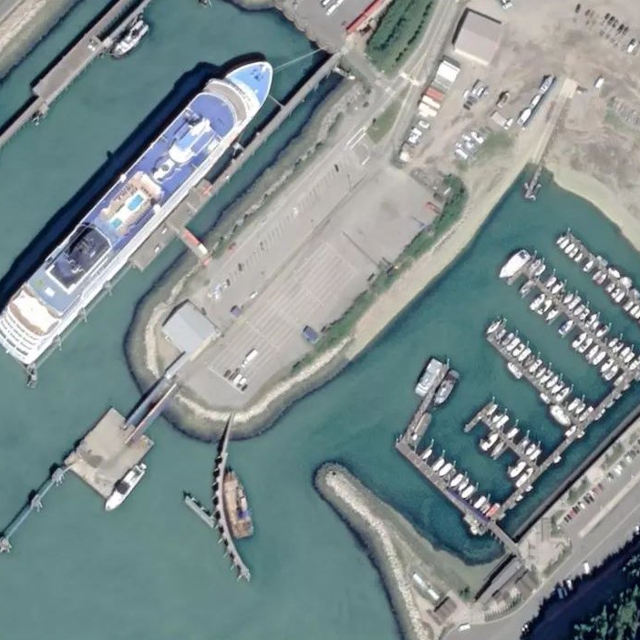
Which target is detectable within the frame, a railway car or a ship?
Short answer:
ship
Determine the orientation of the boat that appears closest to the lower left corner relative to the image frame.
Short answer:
on a diagonal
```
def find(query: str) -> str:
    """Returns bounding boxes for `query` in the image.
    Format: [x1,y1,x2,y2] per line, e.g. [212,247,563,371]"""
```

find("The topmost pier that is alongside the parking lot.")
[206,54,348,191]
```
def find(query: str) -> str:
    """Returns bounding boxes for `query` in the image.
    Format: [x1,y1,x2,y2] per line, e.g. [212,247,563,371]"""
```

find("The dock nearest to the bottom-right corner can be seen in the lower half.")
[493,516,527,561]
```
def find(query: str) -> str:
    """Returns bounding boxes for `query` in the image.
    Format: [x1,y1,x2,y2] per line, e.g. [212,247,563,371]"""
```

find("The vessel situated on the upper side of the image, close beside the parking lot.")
[0,66,268,362]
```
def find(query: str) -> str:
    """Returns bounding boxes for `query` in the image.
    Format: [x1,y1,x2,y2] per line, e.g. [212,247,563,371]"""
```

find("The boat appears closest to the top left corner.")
[115,25,143,53]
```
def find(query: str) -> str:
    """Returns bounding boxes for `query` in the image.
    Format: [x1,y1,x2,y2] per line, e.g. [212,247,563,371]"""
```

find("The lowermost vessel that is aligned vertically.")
[224,470,253,540]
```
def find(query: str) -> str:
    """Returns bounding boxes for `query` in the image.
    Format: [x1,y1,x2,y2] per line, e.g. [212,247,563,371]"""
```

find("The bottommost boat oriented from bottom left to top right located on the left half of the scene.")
[108,461,150,506]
